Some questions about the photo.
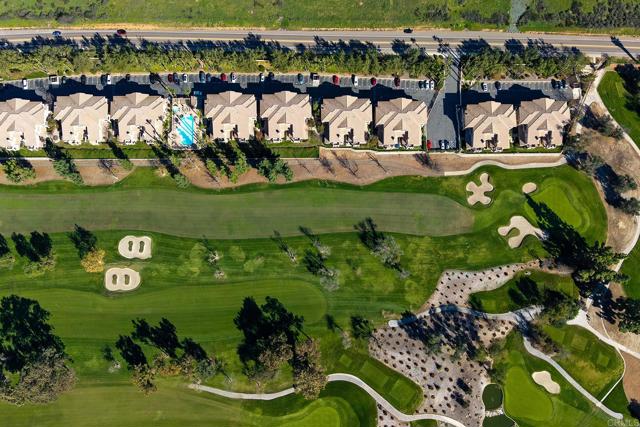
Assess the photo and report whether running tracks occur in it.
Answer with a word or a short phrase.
No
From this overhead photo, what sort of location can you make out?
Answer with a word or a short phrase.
golf course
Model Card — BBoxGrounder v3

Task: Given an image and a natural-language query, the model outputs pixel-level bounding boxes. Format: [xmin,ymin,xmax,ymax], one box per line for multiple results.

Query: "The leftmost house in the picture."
[0,98,54,153]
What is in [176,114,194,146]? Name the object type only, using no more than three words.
swimming pool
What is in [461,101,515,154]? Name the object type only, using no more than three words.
house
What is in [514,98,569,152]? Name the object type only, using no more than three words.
house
